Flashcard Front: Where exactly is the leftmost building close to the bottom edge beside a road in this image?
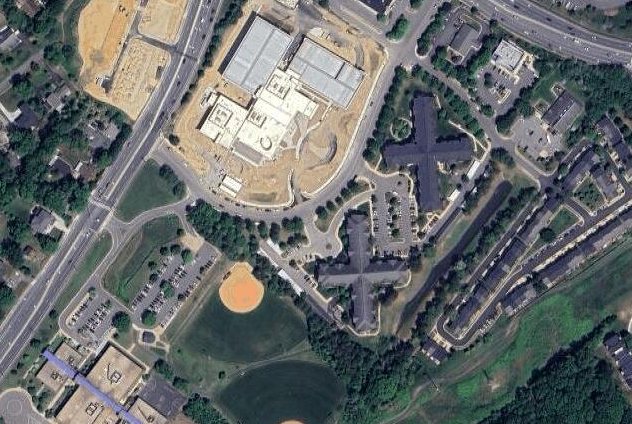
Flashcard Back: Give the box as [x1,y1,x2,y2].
[34,344,165,424]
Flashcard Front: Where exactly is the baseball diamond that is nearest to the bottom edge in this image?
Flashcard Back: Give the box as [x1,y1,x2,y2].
[219,360,346,424]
